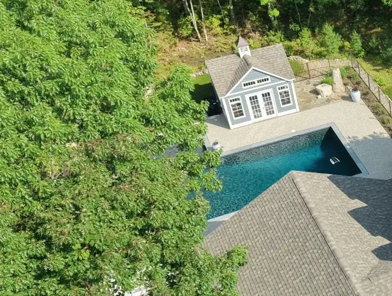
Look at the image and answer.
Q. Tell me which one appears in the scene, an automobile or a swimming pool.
swimming pool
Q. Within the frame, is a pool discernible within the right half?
Yes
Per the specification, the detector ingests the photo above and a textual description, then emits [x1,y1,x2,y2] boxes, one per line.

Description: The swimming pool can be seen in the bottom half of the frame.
[150,123,368,232]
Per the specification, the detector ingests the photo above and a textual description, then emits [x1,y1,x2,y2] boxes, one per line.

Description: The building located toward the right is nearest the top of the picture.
[205,29,300,128]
